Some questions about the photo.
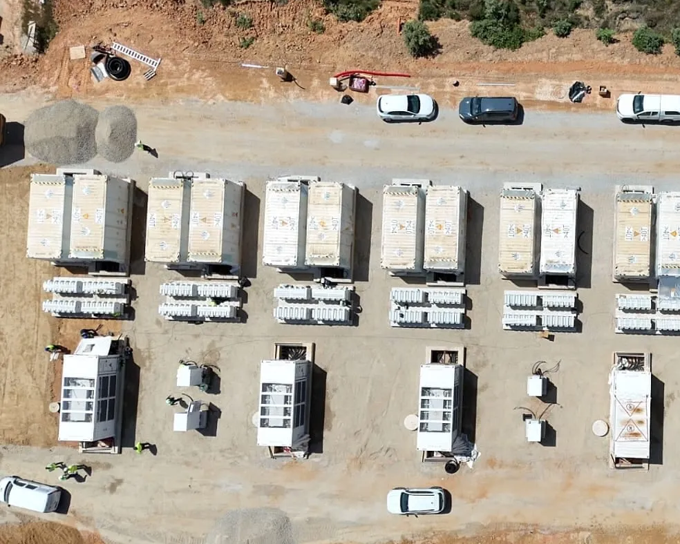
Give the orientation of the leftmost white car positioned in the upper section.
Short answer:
from left to right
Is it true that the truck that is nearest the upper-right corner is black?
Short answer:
No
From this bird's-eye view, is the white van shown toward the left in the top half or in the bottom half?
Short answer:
bottom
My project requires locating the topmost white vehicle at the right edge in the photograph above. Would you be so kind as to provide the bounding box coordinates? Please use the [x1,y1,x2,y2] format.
[616,90,680,124]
